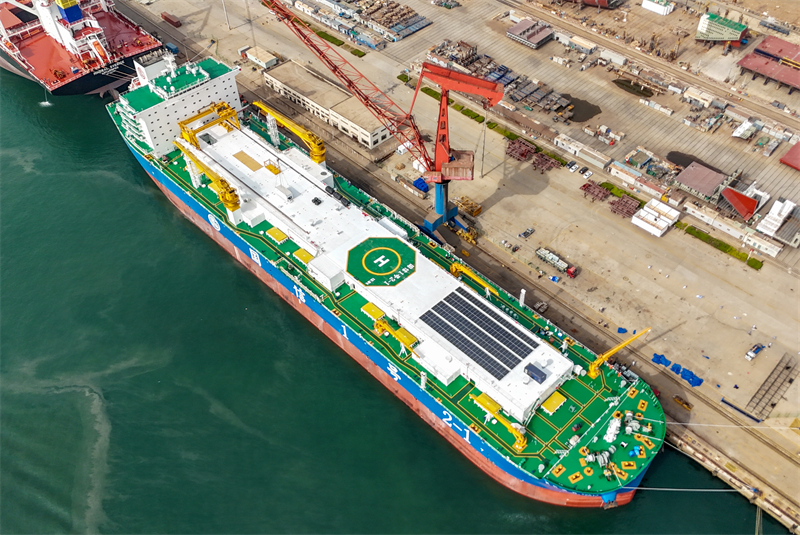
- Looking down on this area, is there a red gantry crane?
Yes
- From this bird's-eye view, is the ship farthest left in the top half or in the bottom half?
top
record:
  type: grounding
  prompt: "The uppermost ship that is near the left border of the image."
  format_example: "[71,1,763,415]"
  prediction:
[0,0,158,109]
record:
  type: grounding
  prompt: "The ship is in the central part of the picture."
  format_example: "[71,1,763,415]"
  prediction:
[105,47,659,512]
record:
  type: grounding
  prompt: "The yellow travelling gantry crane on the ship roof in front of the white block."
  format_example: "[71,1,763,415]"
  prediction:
[180,97,240,148]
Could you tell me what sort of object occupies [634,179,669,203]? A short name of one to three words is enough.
building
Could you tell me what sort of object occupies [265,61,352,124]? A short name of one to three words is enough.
building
